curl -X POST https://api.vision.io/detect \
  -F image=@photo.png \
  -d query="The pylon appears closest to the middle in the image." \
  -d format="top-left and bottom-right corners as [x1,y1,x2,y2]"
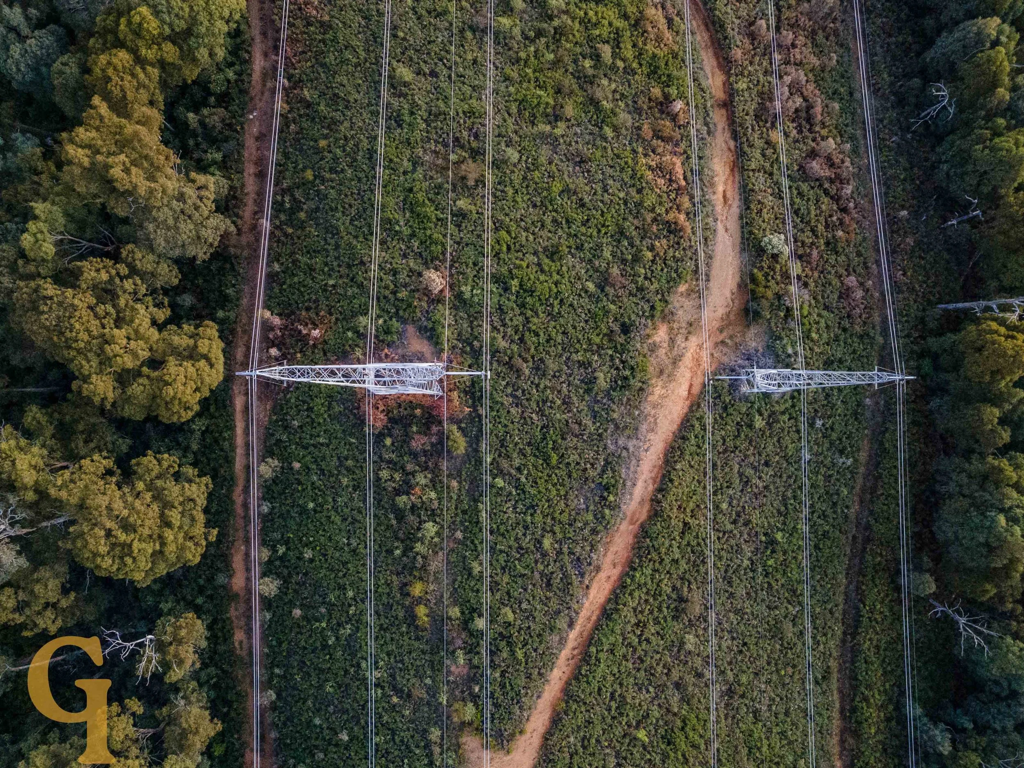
[236,355,488,395]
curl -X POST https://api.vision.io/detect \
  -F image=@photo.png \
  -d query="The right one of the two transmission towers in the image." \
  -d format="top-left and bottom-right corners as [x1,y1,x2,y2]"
[706,363,921,392]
